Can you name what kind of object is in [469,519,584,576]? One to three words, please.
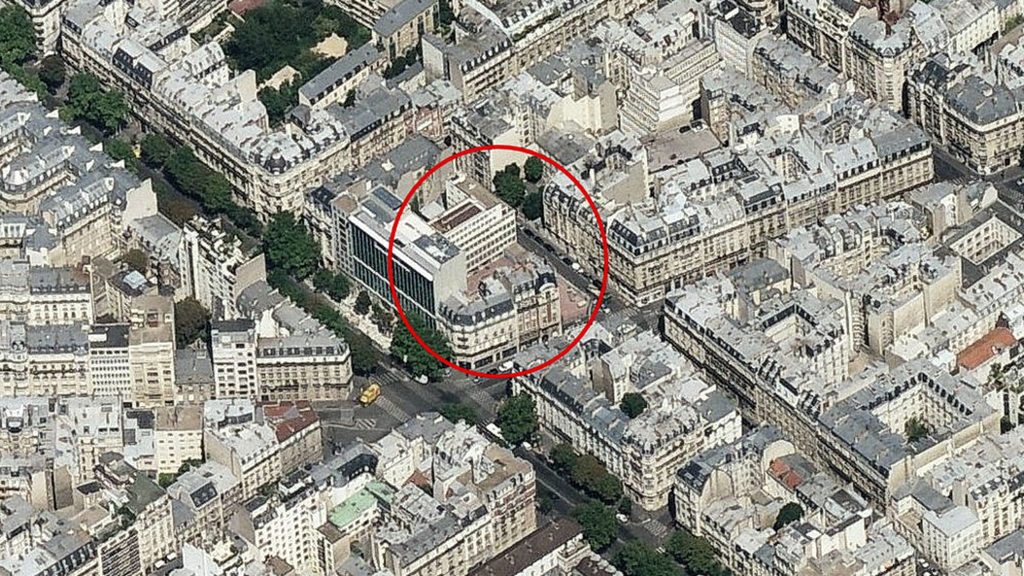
building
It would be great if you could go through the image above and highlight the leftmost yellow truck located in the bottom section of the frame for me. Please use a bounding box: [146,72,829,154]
[359,380,380,405]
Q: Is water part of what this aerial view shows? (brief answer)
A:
No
